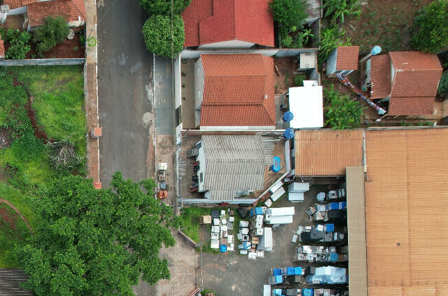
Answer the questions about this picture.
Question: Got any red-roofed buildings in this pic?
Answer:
Yes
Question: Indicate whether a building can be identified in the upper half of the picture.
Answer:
Yes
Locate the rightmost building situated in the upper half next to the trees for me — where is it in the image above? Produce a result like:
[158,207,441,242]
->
[361,52,444,120]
